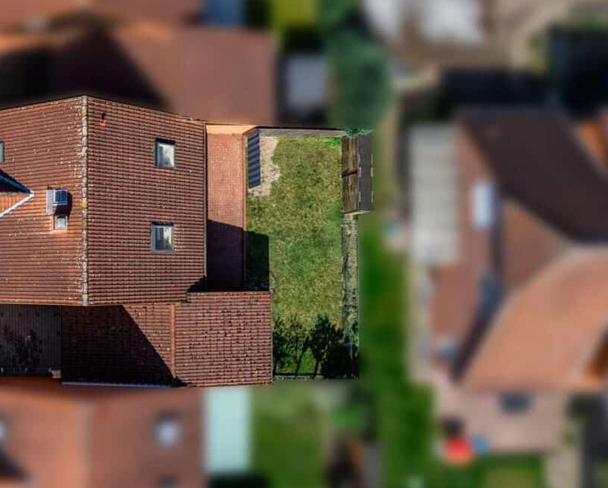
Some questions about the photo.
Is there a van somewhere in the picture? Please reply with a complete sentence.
No, no van is visible in the scene.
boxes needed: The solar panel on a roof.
[46,189,65,205]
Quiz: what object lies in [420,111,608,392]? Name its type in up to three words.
house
